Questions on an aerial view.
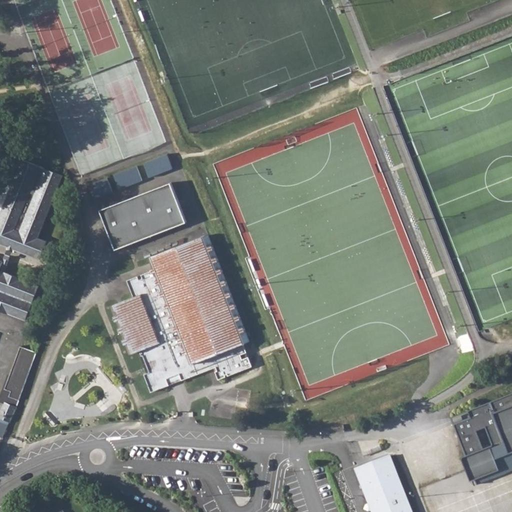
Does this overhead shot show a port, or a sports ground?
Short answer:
sports ground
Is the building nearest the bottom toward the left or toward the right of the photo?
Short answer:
right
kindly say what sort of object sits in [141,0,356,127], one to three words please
sports field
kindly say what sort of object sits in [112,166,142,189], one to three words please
shed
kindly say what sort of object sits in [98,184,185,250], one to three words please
building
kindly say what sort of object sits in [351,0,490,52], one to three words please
sports field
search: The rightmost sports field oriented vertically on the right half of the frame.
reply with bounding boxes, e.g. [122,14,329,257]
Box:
[384,38,512,332]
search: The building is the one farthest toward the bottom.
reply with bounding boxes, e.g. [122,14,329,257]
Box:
[354,456,412,512]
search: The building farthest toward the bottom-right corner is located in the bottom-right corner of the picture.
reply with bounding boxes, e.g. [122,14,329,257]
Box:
[452,394,512,486]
